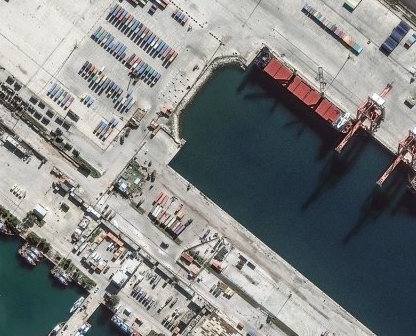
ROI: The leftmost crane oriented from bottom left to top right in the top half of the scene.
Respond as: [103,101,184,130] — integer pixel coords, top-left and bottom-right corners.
[335,83,392,151]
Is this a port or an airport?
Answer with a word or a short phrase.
port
